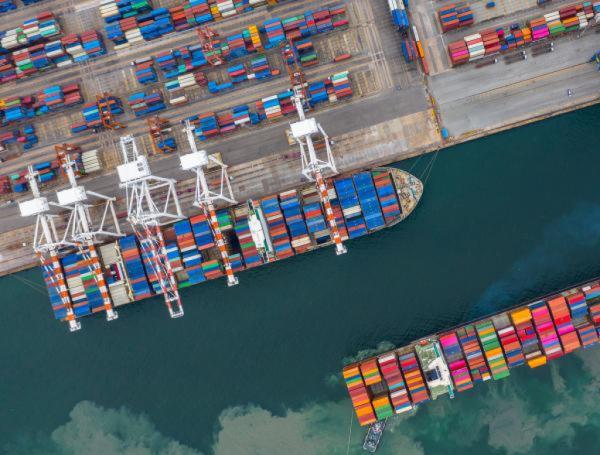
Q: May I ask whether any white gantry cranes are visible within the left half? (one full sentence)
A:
Yes, there is a white gantry crane within the left half.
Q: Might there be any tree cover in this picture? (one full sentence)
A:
No, there is no tree cover in the image.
